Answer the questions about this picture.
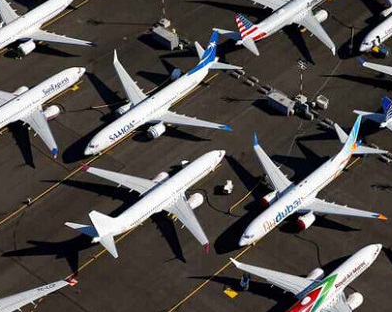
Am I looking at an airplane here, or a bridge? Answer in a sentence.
Looking from above, you can make out an airplane.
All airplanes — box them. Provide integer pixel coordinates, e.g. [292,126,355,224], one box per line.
[0,0,96,57]
[84,30,242,155]
[238,113,389,246]
[229,244,384,312]
[212,0,335,55]
[66,150,227,257]
[359,0,392,53]
[0,273,79,312]
[0,68,86,160]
